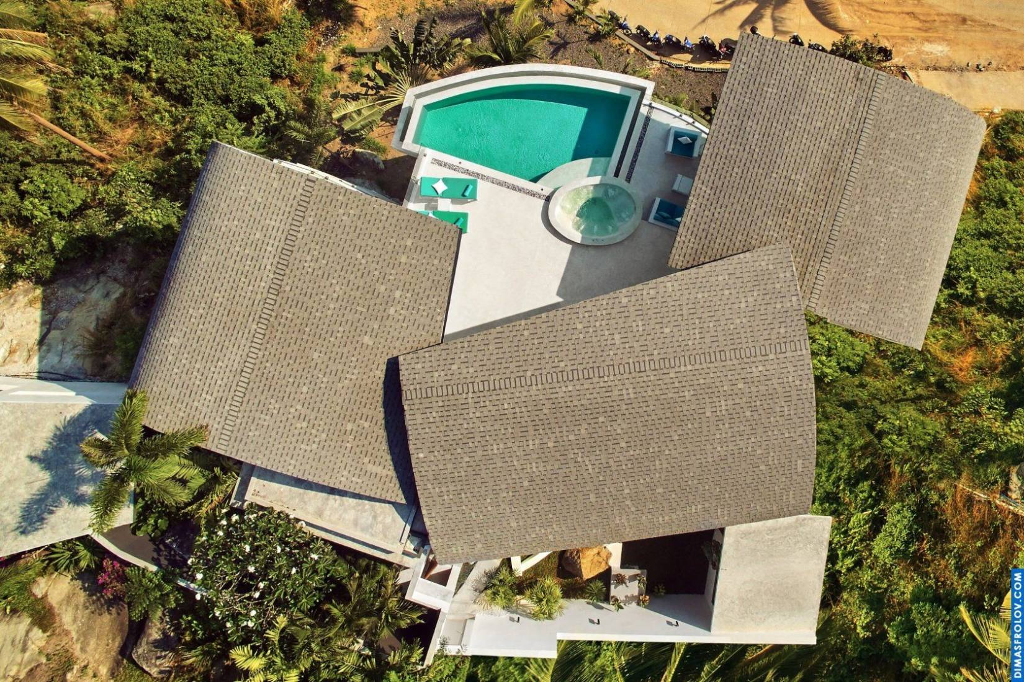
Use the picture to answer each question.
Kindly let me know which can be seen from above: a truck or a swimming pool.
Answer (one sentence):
Visible in the photo is a swimming pool.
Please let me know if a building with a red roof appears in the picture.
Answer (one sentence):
No, the picture doesn't show any building with a red roof.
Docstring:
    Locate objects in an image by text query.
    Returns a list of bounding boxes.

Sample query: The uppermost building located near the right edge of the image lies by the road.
[670,34,985,351]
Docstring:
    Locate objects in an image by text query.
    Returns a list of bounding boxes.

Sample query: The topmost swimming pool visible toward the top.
[392,63,655,192]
